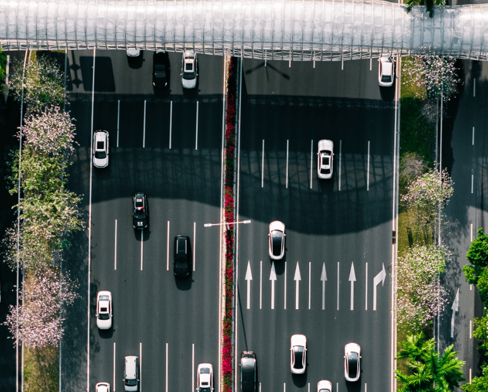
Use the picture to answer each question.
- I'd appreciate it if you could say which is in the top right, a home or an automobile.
automobile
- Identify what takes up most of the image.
paved ground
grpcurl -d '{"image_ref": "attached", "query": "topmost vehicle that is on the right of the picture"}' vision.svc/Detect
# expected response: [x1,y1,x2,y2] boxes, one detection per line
[378,61,395,91]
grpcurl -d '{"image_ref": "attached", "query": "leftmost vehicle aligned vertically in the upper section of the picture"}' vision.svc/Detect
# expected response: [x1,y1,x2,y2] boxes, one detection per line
[91,130,109,169]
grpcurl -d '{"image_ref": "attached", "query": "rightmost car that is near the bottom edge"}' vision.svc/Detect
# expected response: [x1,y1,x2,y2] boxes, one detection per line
[343,343,361,381]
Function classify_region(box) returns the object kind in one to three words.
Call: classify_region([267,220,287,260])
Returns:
car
